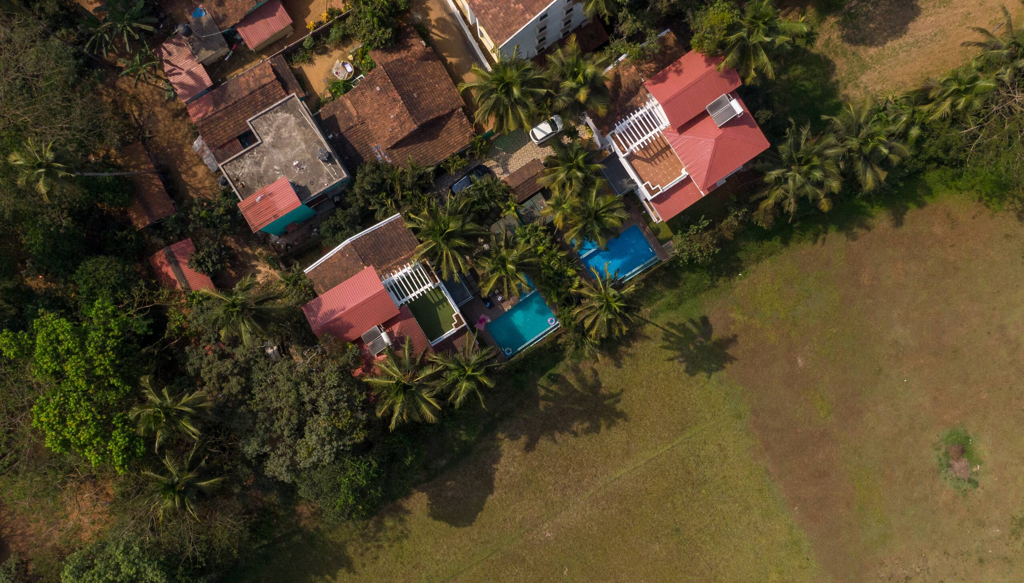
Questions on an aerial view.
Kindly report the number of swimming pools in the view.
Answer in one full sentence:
My tally gives 2 swimming pools in this view.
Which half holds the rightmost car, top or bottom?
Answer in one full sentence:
The rightmost car is in the top half of the image.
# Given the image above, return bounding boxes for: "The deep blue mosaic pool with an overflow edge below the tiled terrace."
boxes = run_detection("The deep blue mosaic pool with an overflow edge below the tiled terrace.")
[572,223,661,294]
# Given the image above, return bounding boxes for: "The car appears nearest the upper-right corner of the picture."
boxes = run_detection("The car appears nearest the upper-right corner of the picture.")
[527,116,563,146]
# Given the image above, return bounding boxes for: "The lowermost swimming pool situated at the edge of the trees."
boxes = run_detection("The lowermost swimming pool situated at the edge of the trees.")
[484,275,559,360]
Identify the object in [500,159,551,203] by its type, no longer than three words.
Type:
shed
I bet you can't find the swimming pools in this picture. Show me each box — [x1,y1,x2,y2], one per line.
[484,275,559,360]
[572,223,661,294]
